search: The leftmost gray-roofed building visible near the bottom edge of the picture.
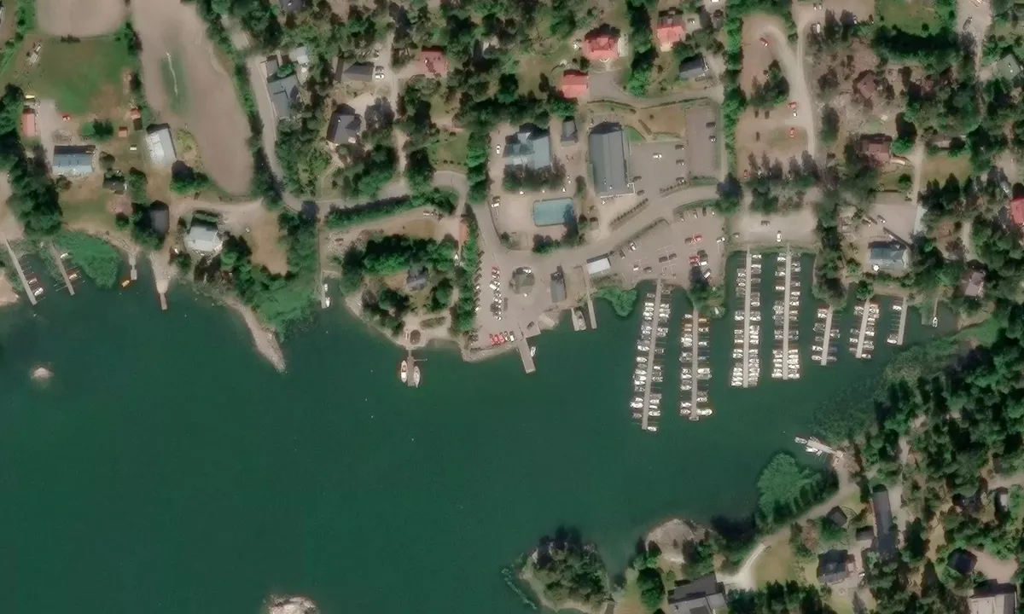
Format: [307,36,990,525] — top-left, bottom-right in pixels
[665,574,730,614]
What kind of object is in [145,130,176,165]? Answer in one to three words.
barn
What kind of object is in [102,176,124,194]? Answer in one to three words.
building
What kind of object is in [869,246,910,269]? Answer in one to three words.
house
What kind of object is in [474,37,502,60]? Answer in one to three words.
house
